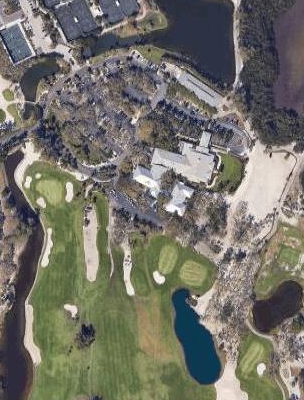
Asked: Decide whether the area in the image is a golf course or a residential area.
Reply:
golf course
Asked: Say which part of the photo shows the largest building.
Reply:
center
